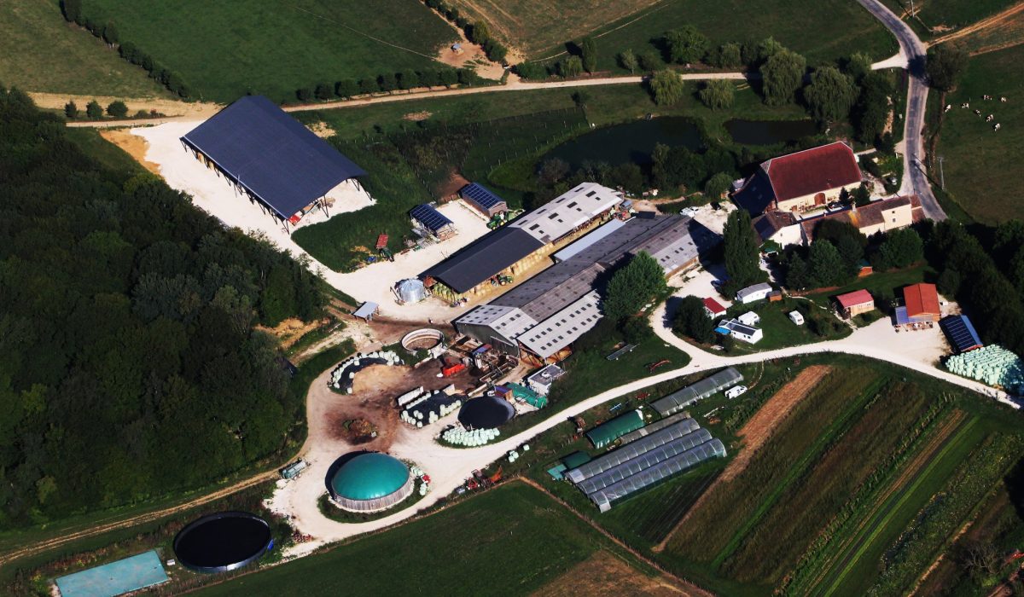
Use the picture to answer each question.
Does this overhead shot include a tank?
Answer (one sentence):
Yes, the image includes a tank.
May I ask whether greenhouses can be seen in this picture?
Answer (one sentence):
Yes, the frame does contain a greenhouse.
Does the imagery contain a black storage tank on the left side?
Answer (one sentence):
Yes, the scene does show a black storage tank on the left side.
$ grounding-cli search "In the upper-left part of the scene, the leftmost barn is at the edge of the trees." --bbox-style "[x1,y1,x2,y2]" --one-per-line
[184,94,369,232]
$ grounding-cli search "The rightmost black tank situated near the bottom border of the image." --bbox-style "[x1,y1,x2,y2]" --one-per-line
[173,509,273,575]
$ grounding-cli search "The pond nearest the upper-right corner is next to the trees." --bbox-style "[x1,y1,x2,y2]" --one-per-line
[726,119,818,145]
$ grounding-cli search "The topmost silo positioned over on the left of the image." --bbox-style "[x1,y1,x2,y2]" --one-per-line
[390,280,424,304]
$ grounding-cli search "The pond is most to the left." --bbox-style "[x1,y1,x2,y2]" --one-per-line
[538,115,703,169]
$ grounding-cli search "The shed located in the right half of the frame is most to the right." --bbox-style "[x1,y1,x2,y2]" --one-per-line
[938,315,983,355]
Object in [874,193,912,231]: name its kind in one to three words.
house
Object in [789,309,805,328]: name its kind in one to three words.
camper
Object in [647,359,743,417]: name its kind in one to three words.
greenhouse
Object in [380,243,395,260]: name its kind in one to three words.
work vehicle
